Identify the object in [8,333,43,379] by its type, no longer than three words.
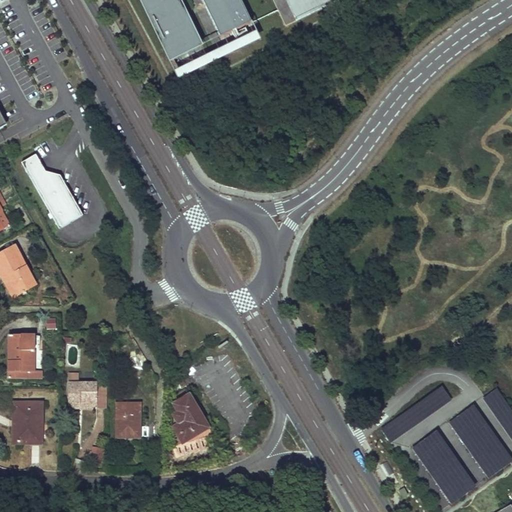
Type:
house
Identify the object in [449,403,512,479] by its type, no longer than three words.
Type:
building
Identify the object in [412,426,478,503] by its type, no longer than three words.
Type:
building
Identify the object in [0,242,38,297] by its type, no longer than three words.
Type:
house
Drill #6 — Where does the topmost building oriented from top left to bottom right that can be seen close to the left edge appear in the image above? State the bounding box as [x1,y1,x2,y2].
[22,152,83,229]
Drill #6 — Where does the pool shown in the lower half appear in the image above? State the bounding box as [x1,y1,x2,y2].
[66,344,80,368]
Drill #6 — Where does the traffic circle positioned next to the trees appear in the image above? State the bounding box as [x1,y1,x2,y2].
[162,190,296,328]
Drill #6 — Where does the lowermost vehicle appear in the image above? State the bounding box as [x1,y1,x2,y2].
[354,450,367,472]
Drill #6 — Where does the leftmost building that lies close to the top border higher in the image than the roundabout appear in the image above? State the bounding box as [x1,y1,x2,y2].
[138,0,202,61]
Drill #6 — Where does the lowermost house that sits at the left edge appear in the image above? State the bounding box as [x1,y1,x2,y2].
[12,400,45,445]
